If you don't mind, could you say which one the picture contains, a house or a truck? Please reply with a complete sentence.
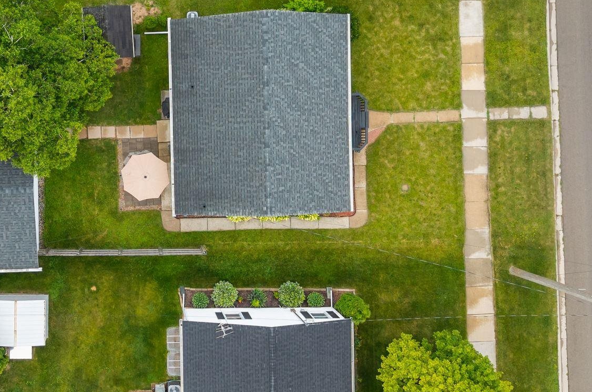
Looking from above, you can make out a house.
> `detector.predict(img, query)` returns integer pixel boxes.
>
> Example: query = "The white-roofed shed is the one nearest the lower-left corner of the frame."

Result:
[0,291,49,358]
